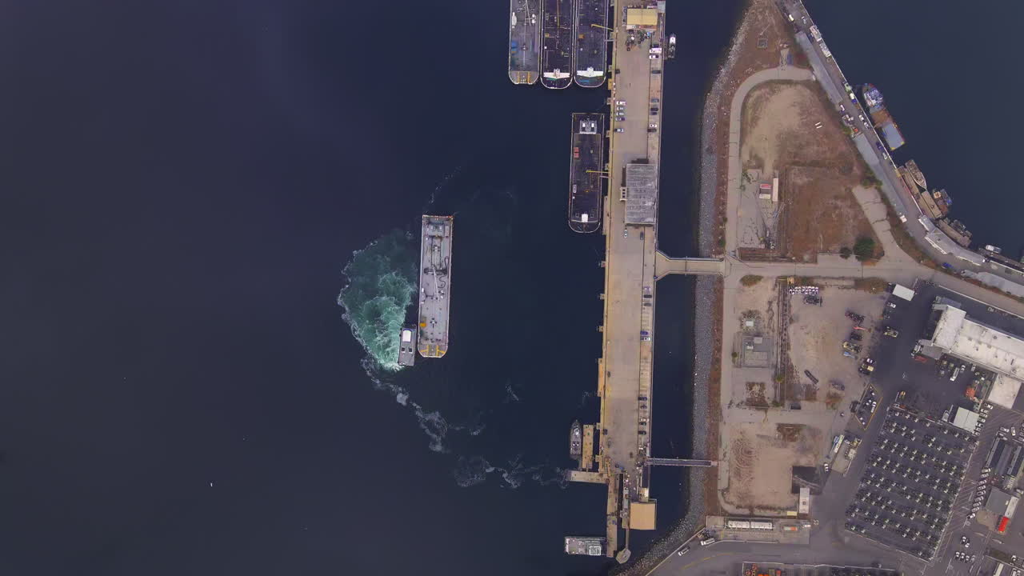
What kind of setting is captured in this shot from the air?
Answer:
port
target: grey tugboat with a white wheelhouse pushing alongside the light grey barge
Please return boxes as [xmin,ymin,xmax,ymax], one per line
[398,325,429,366]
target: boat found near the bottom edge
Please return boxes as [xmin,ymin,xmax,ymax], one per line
[565,536,605,555]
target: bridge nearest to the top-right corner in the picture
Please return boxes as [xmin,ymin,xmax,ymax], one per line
[656,248,725,280]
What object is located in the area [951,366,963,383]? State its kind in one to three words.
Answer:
vehicle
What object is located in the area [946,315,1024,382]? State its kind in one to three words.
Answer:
building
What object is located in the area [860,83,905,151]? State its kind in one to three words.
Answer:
ship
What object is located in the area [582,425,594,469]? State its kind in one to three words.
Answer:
pier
